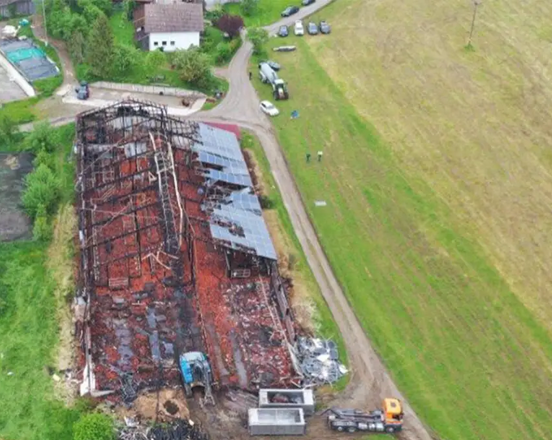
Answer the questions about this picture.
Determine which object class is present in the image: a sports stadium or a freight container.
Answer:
freight container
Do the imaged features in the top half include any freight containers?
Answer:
No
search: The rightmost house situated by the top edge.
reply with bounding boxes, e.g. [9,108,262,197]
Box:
[134,0,202,51]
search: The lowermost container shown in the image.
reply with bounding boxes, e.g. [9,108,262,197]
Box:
[249,406,307,435]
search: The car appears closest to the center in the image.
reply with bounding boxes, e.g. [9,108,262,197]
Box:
[259,99,280,118]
